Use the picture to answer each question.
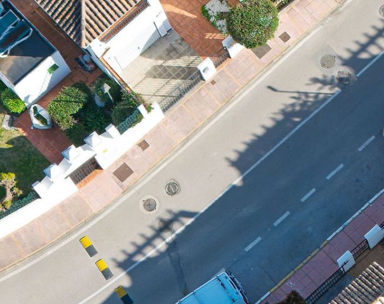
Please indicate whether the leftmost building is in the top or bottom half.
top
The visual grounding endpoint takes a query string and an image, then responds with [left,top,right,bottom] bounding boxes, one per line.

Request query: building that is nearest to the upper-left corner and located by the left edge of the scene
[0,1,70,104]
